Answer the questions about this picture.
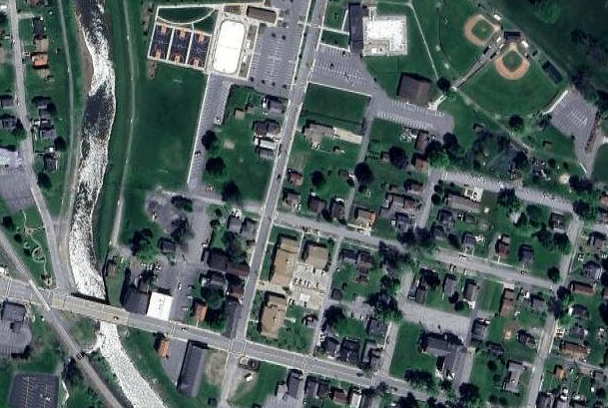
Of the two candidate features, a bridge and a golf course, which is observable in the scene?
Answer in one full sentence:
The one in the frame is a bridge.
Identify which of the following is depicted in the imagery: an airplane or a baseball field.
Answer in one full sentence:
This aerial view contains a baseball field.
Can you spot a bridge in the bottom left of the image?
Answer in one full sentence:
Yes, a bridge shows up in the bottom left of the image.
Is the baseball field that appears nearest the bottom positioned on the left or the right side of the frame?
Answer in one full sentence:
You can find the baseball field that appears nearest the bottom on the right side of the picture.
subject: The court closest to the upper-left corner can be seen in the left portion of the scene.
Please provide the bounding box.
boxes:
[149,24,173,59]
